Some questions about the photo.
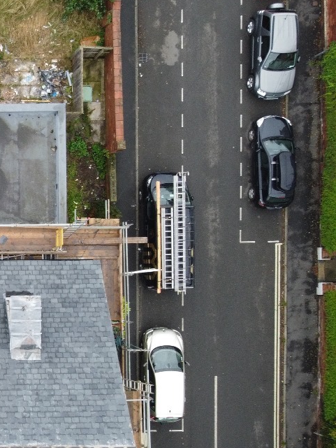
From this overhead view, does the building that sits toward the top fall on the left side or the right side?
left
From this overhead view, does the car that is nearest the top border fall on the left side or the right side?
right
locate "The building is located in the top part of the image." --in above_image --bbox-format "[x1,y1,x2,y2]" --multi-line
[0,104,65,221]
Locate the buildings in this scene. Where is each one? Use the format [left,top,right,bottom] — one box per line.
[0,259,135,448]
[0,104,65,221]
